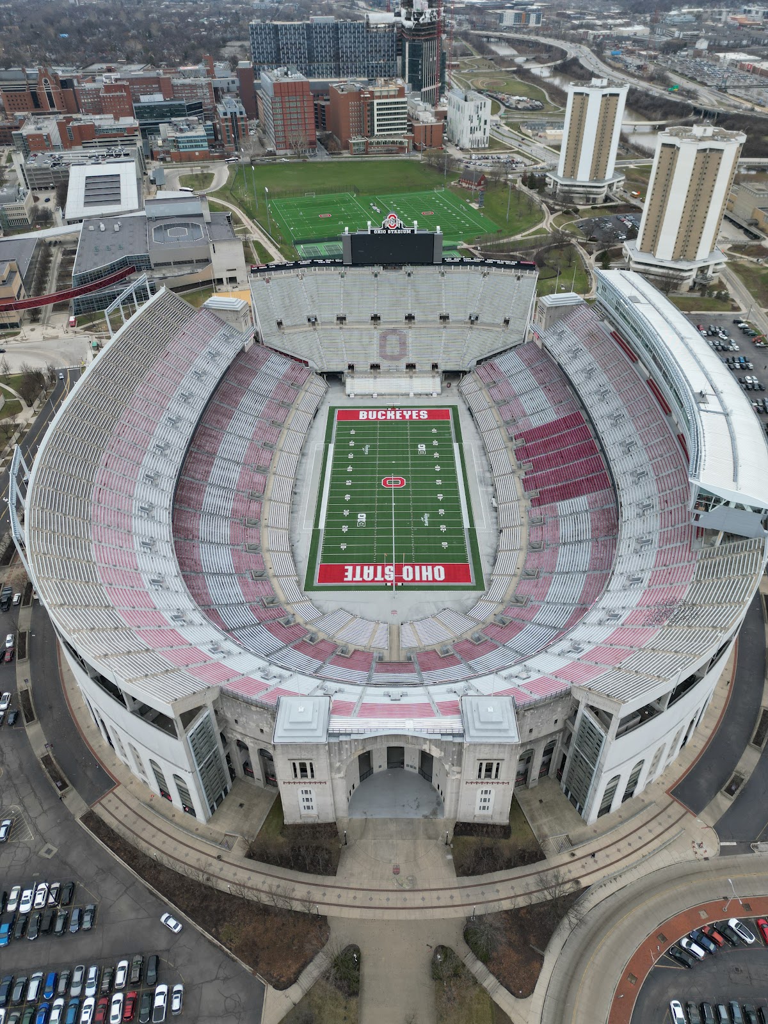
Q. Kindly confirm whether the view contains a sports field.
Yes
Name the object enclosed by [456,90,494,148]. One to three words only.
building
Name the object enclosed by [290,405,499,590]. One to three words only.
sports field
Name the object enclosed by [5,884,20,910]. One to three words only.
car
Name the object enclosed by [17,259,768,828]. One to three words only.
stadium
